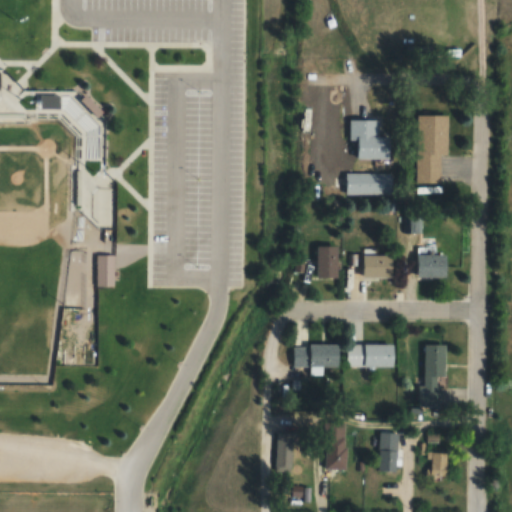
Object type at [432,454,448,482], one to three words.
house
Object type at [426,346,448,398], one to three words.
building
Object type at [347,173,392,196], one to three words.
barn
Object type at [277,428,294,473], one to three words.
house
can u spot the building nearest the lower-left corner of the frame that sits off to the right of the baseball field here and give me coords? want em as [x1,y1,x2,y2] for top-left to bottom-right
[98,255,116,288]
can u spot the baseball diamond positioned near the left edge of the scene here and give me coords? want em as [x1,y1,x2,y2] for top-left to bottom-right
[0,122,72,384]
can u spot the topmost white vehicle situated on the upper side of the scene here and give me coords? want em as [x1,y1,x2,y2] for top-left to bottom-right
[326,14,338,31]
